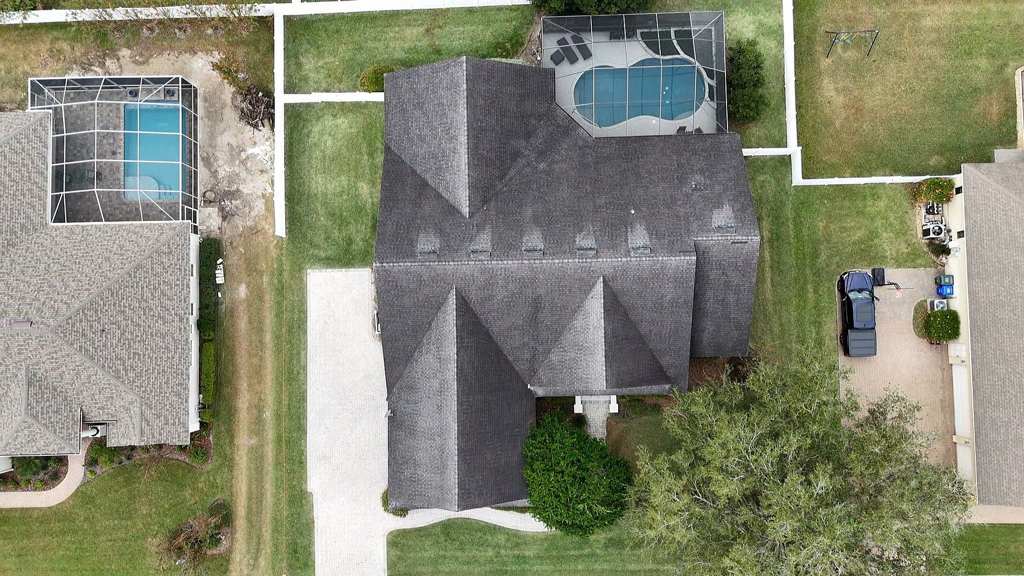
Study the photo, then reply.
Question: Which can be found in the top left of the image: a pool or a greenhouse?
pool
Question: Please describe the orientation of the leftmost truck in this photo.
from top to bottom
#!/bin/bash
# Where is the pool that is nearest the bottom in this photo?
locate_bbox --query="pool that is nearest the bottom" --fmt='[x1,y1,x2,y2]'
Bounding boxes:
[124,105,180,200]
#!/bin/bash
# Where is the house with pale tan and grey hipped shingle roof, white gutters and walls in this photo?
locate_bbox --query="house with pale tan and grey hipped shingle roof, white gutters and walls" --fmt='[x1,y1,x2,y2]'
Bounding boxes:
[0,109,204,473]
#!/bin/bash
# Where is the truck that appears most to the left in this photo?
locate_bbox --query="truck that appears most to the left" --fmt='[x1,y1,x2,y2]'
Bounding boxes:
[835,271,877,357]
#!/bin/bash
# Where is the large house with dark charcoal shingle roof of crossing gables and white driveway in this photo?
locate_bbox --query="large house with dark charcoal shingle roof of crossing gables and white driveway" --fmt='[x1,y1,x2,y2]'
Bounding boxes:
[373,56,761,511]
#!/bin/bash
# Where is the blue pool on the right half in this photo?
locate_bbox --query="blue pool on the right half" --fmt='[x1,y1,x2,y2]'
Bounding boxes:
[570,54,708,130]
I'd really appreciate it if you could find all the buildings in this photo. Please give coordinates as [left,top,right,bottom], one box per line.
[944,161,1024,509]
[373,56,761,511]
[0,109,204,473]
